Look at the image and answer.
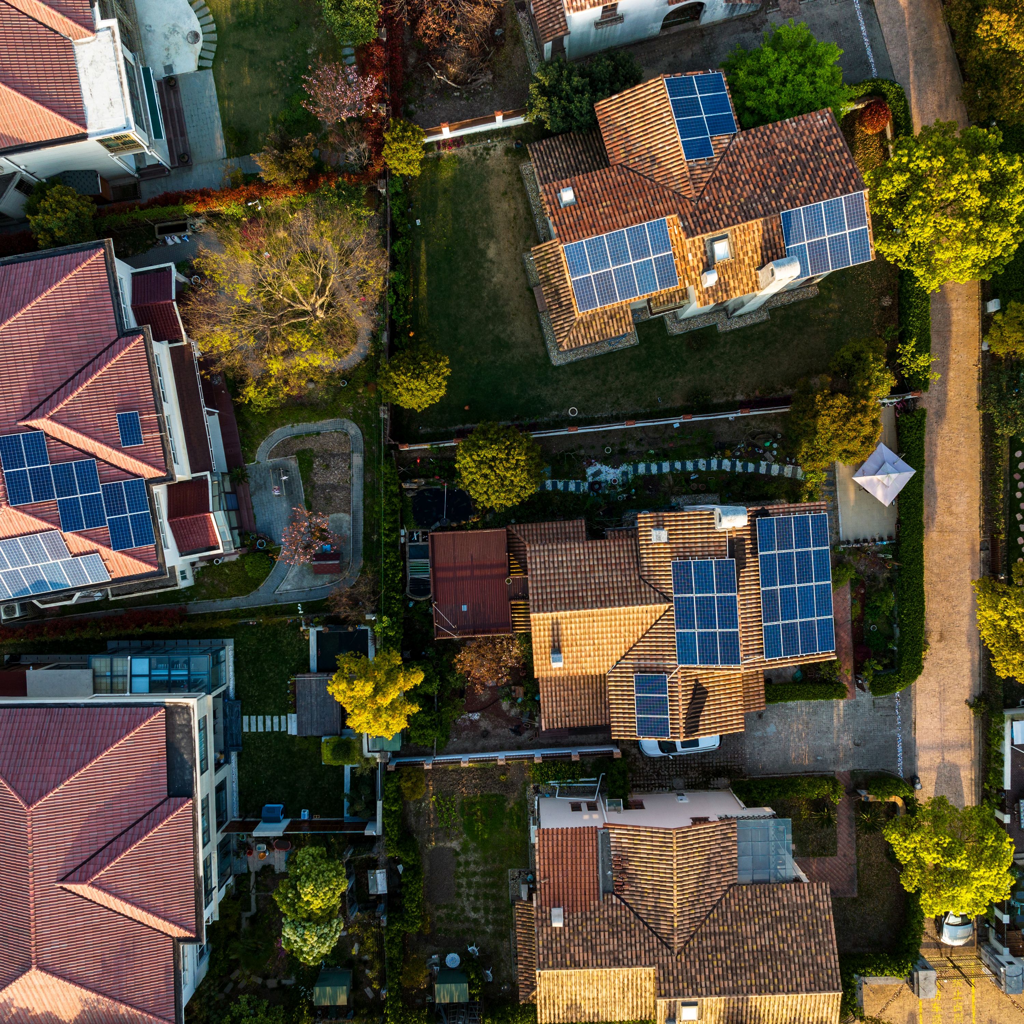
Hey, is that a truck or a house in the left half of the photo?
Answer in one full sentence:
The one visible in the left half of the photo is a house.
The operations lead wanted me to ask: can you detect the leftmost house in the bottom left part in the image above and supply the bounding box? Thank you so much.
[0,645,233,1024]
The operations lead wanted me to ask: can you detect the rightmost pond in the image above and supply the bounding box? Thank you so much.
[412,487,473,525]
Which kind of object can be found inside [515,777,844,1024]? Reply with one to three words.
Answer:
house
